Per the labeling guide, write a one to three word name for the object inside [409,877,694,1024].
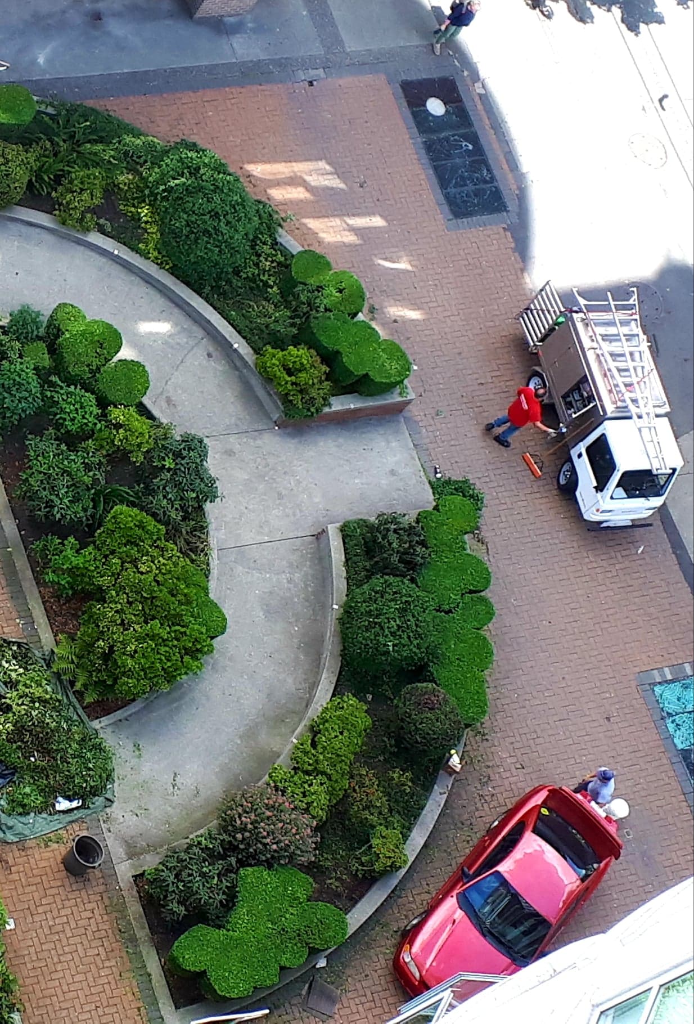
building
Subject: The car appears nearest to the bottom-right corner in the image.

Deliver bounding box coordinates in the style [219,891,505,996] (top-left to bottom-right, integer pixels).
[395,786,618,1014]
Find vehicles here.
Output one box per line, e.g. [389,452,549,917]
[395,786,618,1014]
[521,279,680,528]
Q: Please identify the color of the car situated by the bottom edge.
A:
red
